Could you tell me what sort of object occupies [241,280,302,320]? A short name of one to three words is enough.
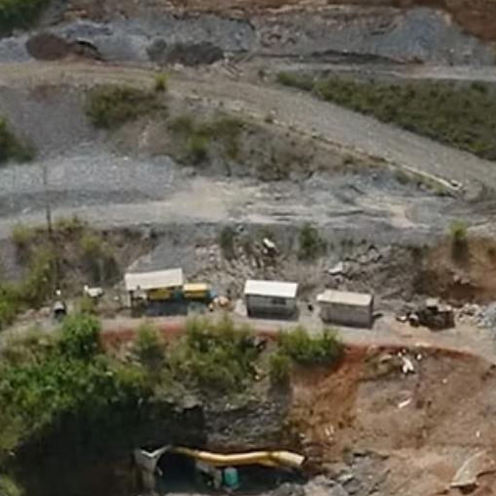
shed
